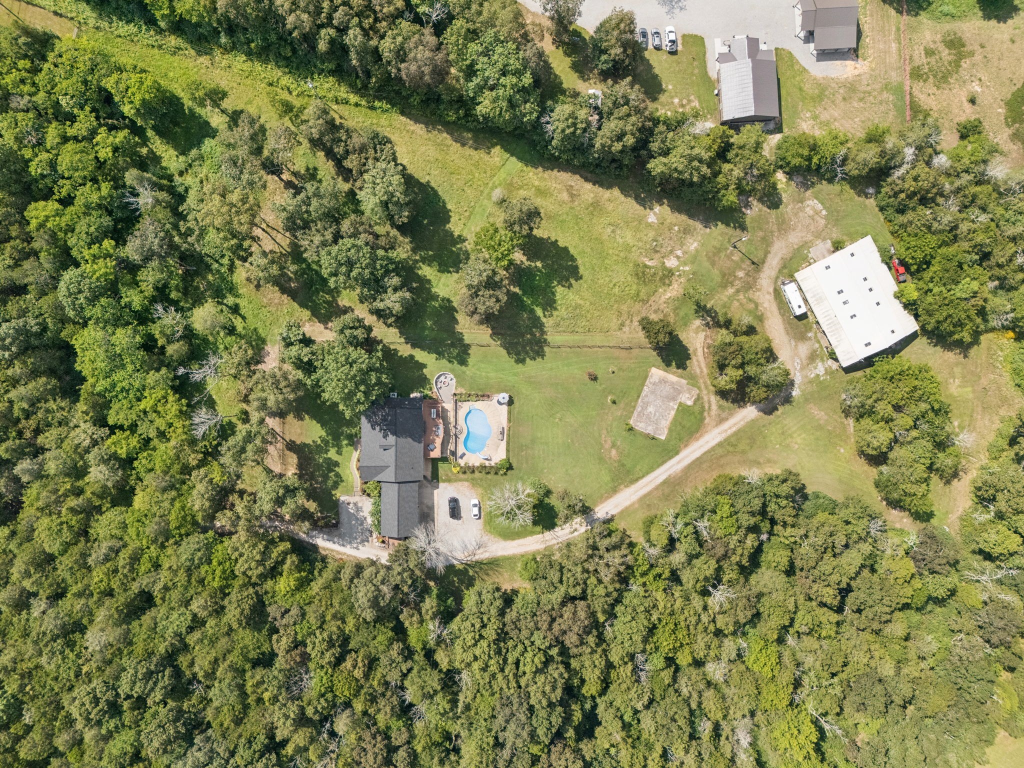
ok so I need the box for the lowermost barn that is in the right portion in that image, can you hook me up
[790,235,918,368]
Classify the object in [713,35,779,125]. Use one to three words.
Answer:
house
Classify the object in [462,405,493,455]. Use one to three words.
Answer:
swimming pool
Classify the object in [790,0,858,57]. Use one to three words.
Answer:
house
